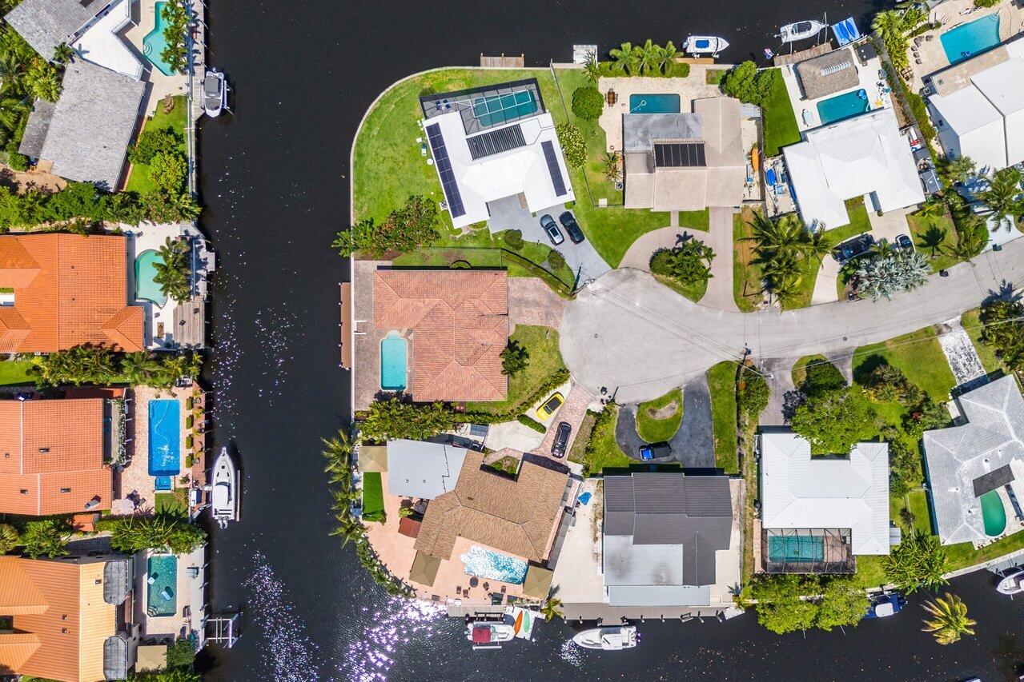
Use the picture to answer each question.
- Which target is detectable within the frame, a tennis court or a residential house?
residential house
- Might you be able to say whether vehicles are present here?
Yes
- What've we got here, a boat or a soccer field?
boat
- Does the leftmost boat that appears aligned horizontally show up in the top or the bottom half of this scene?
bottom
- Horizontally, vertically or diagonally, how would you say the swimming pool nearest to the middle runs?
vertically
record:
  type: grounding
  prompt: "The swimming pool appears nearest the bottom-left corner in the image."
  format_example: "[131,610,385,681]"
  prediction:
[146,555,178,619]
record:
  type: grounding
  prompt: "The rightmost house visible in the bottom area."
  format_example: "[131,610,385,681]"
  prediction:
[916,374,1024,546]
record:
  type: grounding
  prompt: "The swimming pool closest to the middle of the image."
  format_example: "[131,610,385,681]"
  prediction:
[379,330,409,391]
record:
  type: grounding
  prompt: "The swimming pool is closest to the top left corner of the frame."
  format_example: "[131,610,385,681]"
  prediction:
[141,0,181,77]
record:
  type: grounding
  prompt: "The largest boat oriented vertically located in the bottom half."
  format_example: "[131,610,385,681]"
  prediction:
[212,448,235,526]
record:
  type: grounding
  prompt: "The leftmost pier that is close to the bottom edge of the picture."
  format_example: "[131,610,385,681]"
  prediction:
[191,549,212,653]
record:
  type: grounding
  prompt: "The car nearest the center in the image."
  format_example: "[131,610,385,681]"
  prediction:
[536,390,565,422]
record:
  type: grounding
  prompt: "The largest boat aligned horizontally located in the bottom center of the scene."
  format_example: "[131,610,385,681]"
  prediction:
[573,626,641,650]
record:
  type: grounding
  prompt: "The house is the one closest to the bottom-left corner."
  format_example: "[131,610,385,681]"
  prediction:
[0,549,150,682]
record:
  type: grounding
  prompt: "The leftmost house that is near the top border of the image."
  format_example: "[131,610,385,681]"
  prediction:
[5,0,152,194]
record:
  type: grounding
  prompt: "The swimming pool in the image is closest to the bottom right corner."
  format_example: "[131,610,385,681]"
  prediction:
[981,490,1008,538]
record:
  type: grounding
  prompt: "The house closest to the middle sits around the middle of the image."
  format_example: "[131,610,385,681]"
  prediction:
[374,270,509,401]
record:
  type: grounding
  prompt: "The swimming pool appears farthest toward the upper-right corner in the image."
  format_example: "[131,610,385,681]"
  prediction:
[939,12,1003,66]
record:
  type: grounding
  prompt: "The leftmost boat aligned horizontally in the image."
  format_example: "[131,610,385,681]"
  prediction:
[463,625,515,646]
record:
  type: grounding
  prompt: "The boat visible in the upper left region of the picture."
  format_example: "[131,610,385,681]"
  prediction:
[203,67,223,117]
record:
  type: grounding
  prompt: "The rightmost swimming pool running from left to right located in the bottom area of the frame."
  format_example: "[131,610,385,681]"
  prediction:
[768,536,825,564]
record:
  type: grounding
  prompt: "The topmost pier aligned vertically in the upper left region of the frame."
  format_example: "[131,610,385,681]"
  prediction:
[192,0,213,120]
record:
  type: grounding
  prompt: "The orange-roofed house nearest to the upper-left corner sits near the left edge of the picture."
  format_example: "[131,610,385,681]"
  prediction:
[0,233,150,353]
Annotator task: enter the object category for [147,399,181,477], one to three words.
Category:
swimming pool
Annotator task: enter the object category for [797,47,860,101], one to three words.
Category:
shed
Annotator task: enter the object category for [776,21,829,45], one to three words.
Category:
boat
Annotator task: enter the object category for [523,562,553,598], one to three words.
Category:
gazebo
